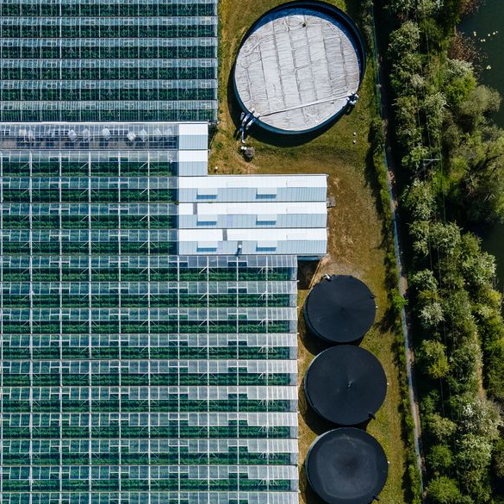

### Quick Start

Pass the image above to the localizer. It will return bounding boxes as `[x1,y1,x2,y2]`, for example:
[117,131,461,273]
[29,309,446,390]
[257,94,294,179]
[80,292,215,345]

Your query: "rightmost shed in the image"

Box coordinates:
[179,122,327,261]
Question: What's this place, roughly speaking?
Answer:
industrial area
